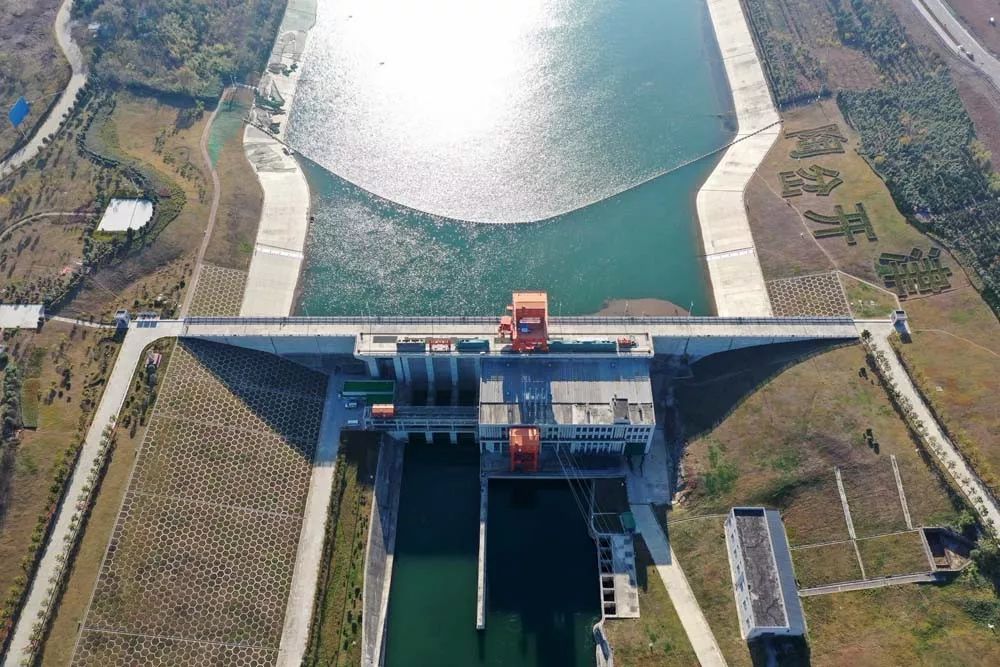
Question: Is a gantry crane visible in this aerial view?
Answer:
Yes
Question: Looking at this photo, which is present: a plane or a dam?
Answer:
dam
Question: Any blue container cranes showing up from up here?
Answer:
No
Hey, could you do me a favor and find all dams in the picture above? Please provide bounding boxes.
[182,315,864,408]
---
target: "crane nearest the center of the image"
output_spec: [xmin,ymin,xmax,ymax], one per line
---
[502,285,551,352]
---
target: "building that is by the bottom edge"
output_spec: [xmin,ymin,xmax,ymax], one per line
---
[720,507,812,644]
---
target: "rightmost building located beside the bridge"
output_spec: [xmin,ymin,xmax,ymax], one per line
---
[478,354,659,490]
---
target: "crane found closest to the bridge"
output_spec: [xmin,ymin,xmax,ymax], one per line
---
[510,428,541,472]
